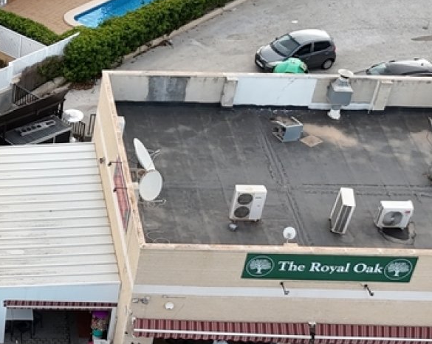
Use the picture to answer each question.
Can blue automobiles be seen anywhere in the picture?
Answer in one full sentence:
No, this view has no blue automobile in it.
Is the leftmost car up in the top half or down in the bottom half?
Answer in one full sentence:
You can find the leftmost car in the top half.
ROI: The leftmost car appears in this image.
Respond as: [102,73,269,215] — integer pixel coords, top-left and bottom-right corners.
[259,21,348,70]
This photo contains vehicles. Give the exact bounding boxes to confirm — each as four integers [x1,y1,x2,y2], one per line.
[259,21,348,70]
[360,55,432,76]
